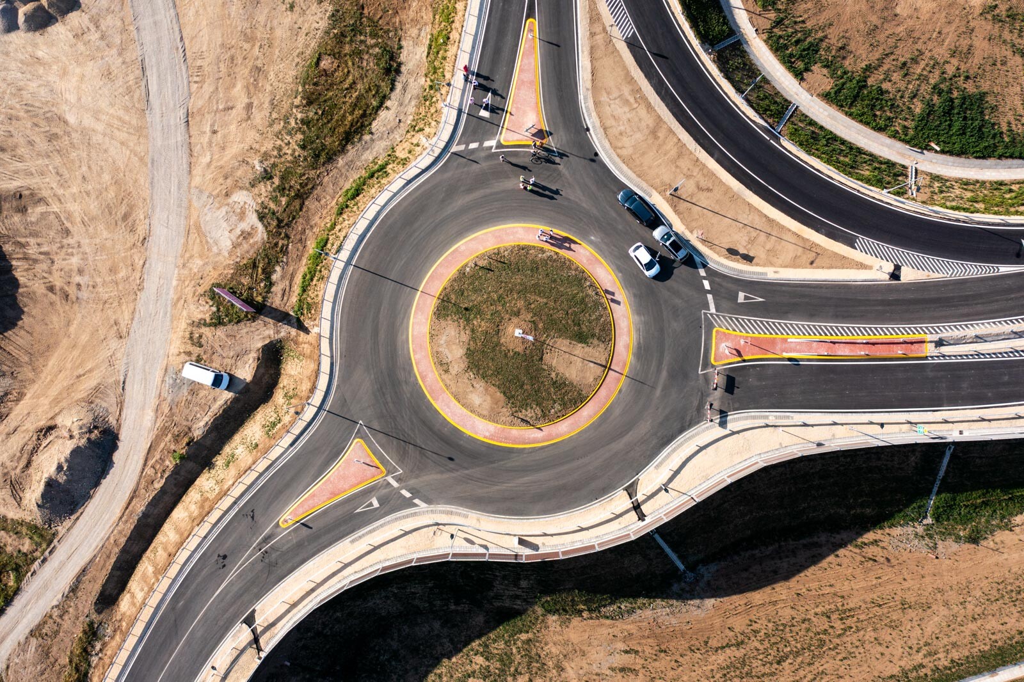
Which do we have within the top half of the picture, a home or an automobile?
automobile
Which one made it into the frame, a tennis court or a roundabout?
roundabout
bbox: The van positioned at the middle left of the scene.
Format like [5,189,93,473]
[177,361,230,391]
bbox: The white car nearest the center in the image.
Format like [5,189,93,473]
[628,242,660,278]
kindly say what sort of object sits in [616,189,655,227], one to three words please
car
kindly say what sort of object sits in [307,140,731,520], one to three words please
roundabout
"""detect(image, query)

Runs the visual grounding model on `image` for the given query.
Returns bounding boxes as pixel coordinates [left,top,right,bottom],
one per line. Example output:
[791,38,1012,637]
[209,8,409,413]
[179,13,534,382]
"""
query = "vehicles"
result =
[628,242,660,278]
[177,361,230,391]
[652,227,689,264]
[616,189,655,227]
